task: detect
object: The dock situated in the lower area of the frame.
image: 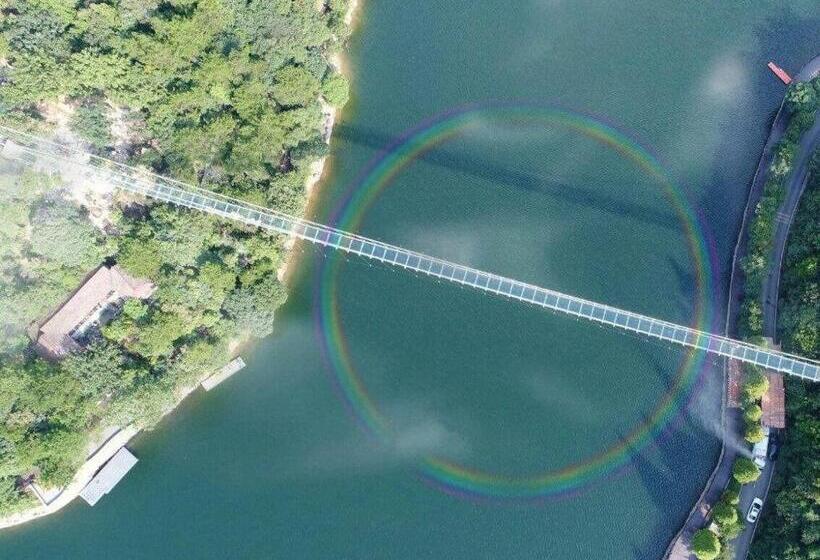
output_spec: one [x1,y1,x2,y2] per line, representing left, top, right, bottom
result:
[202,357,247,392]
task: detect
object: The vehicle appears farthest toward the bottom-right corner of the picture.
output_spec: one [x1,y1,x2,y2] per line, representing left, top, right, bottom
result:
[745,497,764,523]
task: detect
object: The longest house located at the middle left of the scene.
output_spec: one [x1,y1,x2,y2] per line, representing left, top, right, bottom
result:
[37,259,157,361]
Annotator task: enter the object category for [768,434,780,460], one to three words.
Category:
vehicle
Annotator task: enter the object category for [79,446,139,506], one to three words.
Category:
building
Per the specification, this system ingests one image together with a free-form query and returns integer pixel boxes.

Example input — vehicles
[750,429,770,467]
[768,434,780,460]
[745,497,764,523]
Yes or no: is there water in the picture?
Yes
